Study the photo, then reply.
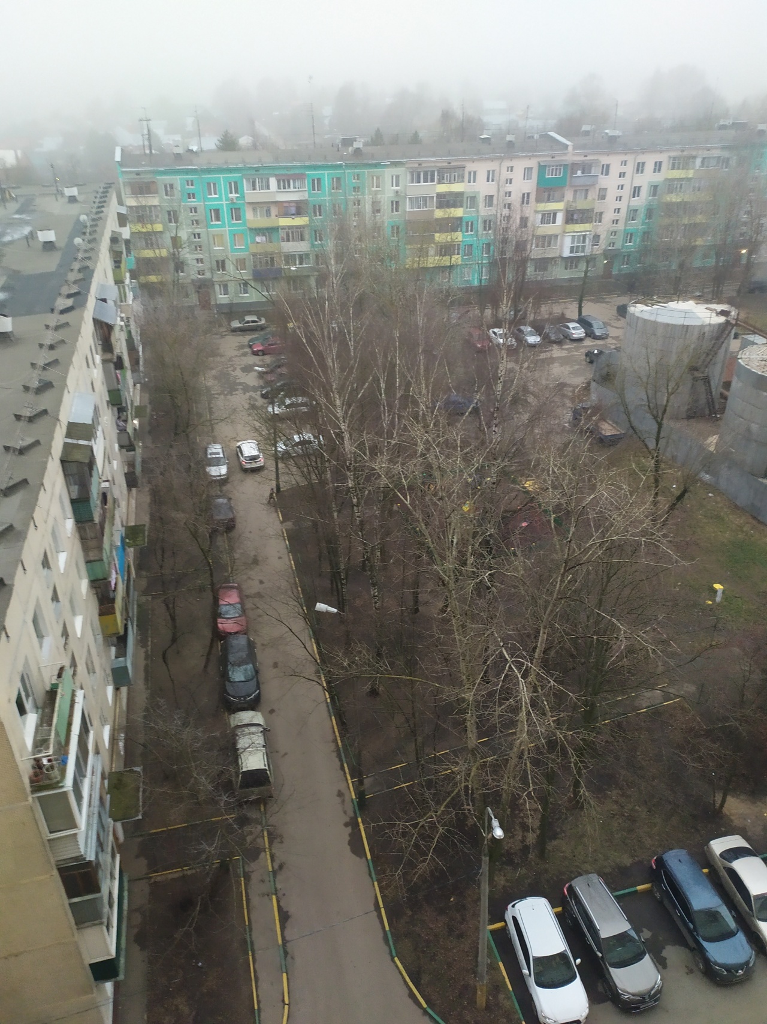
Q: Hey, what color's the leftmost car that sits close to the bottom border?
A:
white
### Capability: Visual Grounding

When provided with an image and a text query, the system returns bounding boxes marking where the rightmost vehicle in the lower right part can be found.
[706,830,767,947]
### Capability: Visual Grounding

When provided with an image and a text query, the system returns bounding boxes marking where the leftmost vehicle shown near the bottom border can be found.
[500,887,598,1024]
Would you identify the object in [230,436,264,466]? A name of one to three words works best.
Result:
car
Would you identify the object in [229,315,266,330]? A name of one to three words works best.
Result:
car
